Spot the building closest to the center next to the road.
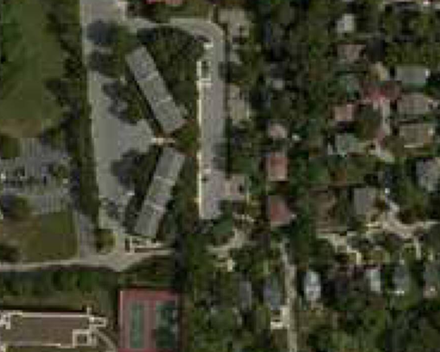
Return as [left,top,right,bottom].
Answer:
[215,175,245,202]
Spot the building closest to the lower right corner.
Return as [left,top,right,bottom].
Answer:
[424,271,438,298]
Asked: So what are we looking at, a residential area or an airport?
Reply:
residential area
